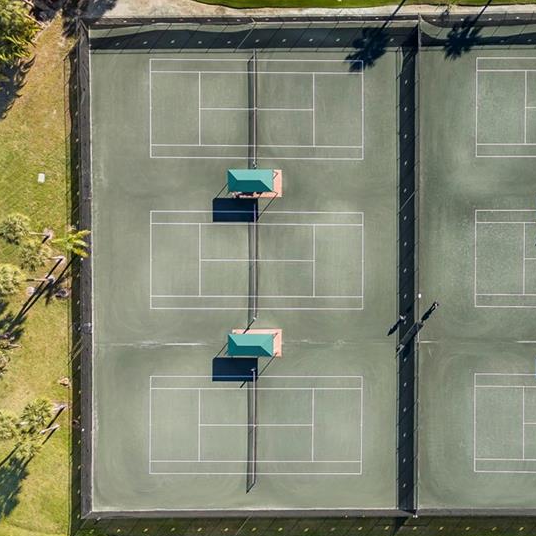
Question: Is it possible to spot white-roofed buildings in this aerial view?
No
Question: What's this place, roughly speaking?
sports ground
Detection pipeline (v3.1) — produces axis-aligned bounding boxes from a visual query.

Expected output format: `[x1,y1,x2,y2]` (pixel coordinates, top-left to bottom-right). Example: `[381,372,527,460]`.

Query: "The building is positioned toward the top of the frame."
[228,169,282,197]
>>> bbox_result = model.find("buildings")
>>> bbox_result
[228,169,282,197]
[228,329,282,357]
